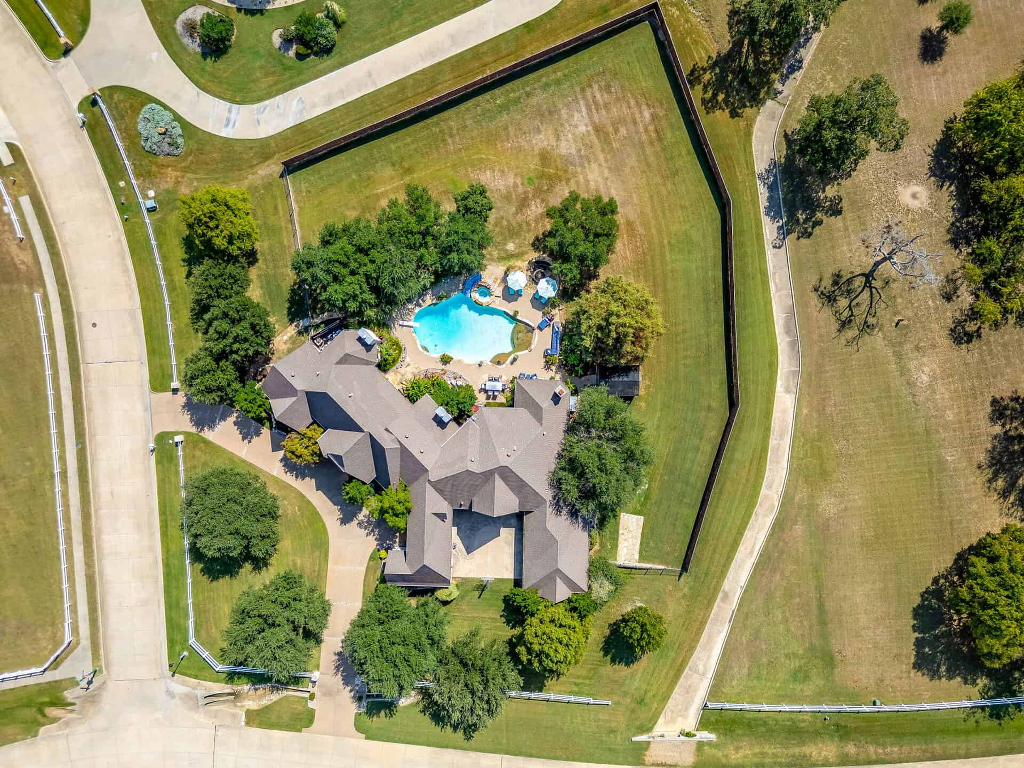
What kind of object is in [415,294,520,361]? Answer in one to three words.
swimming pool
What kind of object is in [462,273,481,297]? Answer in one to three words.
swimming pool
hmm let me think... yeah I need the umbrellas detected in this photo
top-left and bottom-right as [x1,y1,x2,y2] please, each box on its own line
[538,278,557,298]
[507,270,527,291]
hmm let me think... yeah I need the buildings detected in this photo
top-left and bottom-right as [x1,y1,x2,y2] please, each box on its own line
[262,323,589,603]
[600,364,640,397]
